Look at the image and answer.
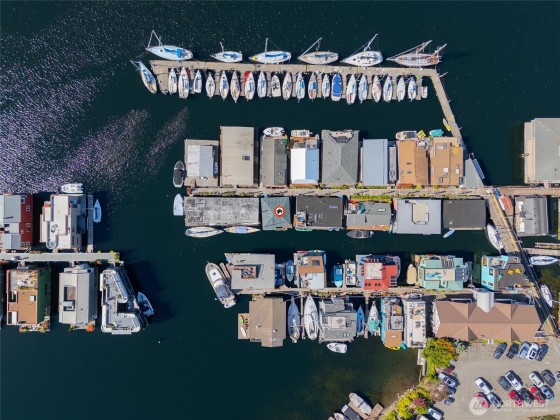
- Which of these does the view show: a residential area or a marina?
marina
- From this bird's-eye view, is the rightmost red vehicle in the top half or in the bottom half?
bottom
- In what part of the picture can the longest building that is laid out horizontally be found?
bottom right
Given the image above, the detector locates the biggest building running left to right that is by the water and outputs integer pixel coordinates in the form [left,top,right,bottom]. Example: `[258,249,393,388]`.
[432,285,541,341]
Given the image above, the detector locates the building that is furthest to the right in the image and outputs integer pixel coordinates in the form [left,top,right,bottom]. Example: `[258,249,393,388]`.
[523,118,560,186]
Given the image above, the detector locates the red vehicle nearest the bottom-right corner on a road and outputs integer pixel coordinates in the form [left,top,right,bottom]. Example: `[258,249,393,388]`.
[527,384,547,405]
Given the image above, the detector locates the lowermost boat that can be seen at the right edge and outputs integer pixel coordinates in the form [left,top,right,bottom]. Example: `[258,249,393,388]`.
[540,284,560,310]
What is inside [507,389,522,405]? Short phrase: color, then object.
red car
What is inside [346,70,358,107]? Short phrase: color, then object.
white boat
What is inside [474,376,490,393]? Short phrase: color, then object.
white car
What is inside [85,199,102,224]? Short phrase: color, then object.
blue boat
